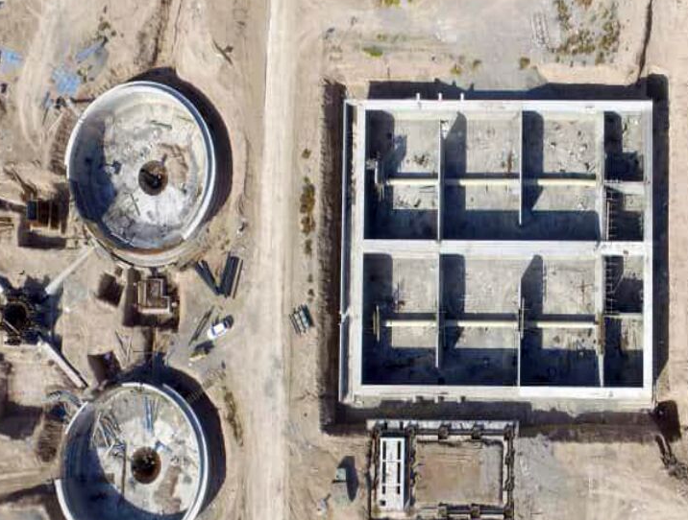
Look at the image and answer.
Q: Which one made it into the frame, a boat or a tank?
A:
tank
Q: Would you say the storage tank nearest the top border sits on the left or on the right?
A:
left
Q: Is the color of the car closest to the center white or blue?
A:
white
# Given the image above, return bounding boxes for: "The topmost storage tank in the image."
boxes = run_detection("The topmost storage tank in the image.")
[66,80,229,262]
